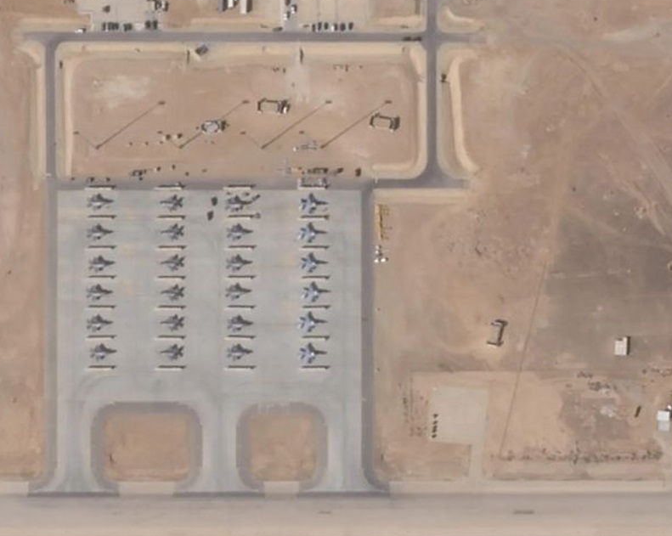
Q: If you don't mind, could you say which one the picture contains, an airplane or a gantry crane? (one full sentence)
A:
There is an airplane in the scene.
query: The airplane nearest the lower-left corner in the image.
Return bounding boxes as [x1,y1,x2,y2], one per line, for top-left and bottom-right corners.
[90,344,114,361]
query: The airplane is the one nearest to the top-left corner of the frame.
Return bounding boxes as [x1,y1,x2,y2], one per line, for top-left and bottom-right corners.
[87,194,109,210]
